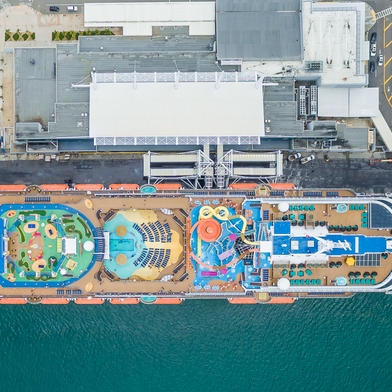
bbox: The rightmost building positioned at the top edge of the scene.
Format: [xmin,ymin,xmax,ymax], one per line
[265,1,369,86]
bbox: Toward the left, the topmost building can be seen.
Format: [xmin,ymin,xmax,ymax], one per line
[84,2,215,36]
